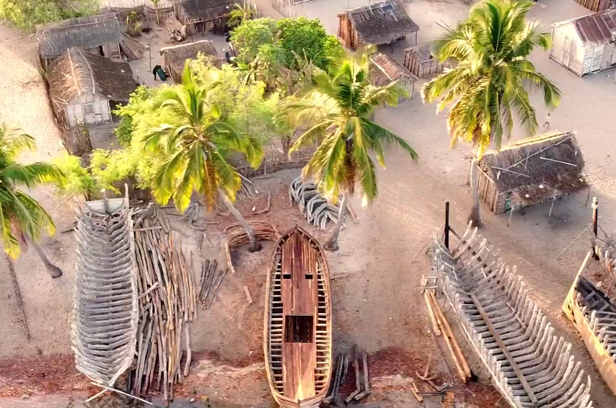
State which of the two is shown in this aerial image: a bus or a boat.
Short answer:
boat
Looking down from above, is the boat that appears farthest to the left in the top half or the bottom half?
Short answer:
bottom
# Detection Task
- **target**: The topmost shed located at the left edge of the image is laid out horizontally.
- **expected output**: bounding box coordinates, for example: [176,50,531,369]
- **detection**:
[18,10,128,62]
